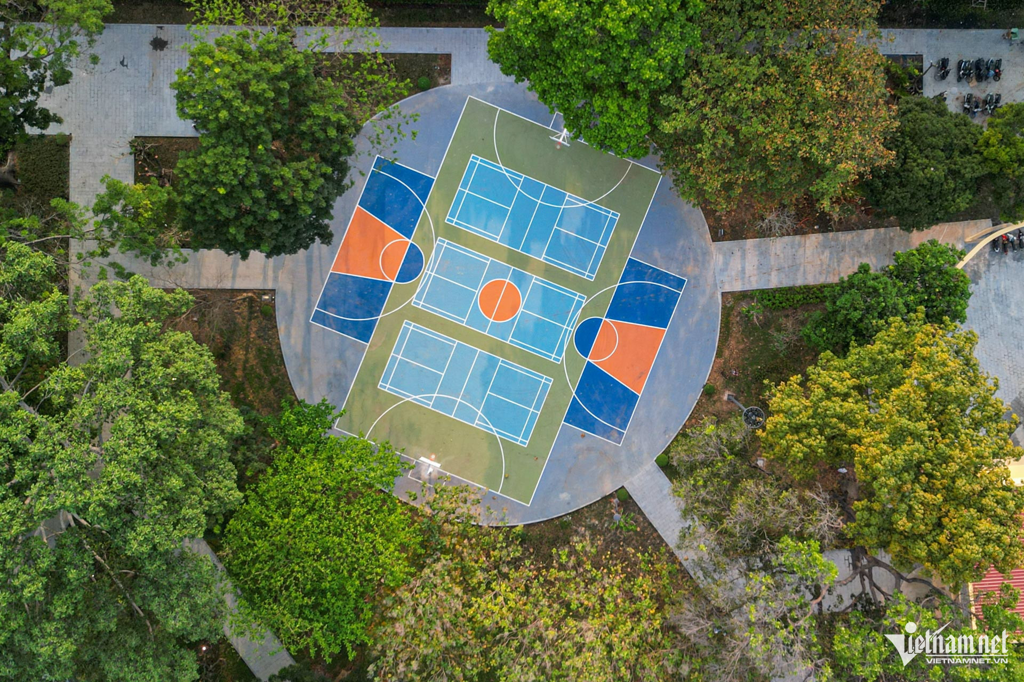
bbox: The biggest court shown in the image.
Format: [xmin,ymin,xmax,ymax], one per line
[335,94,662,507]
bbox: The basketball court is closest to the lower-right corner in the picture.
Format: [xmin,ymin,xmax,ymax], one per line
[562,256,688,448]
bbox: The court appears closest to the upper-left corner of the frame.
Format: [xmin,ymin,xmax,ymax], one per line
[309,153,435,345]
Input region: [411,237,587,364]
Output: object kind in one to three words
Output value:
sports court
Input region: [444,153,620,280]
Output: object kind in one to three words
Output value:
sports court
